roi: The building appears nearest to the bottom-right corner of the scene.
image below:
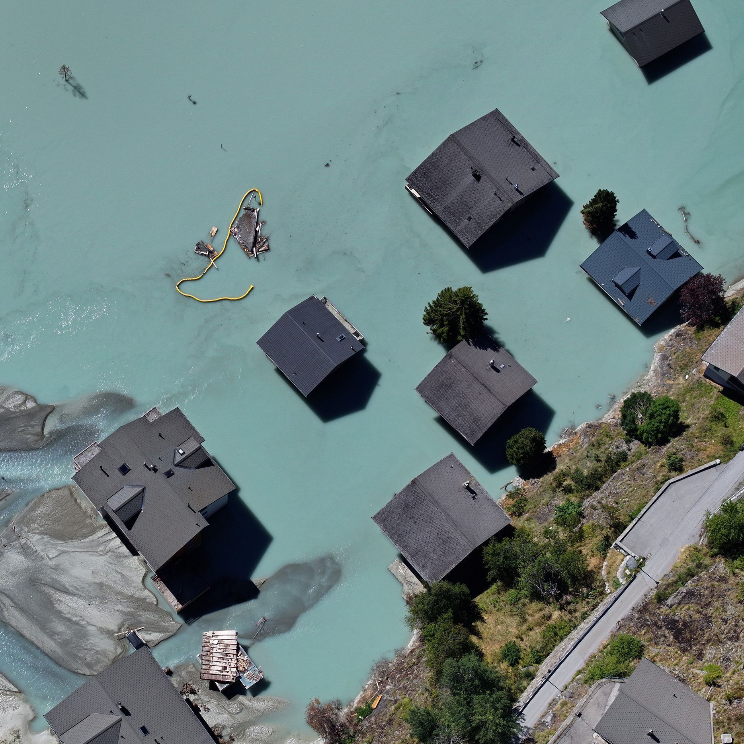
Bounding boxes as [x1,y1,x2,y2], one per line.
[592,657,711,744]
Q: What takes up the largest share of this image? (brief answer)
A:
water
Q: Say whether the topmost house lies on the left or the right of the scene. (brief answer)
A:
right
